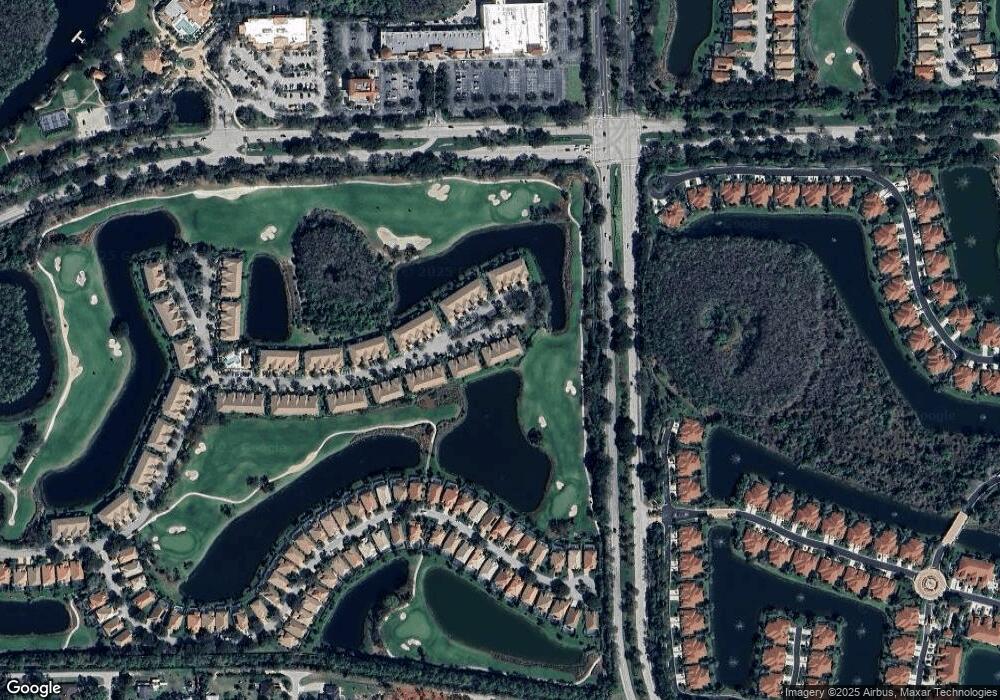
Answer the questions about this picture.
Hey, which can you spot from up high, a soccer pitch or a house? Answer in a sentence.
The one in the frame is a house.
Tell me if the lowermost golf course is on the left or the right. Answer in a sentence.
It is on the left.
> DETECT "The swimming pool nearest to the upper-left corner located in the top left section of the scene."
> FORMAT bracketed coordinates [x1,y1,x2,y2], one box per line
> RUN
[178,16,198,37]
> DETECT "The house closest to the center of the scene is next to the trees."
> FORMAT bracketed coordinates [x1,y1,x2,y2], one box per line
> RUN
[480,335,524,367]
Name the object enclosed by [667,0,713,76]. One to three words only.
pond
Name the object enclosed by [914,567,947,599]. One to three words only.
roundabout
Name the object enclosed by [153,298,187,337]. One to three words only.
house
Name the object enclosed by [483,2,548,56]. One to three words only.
building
